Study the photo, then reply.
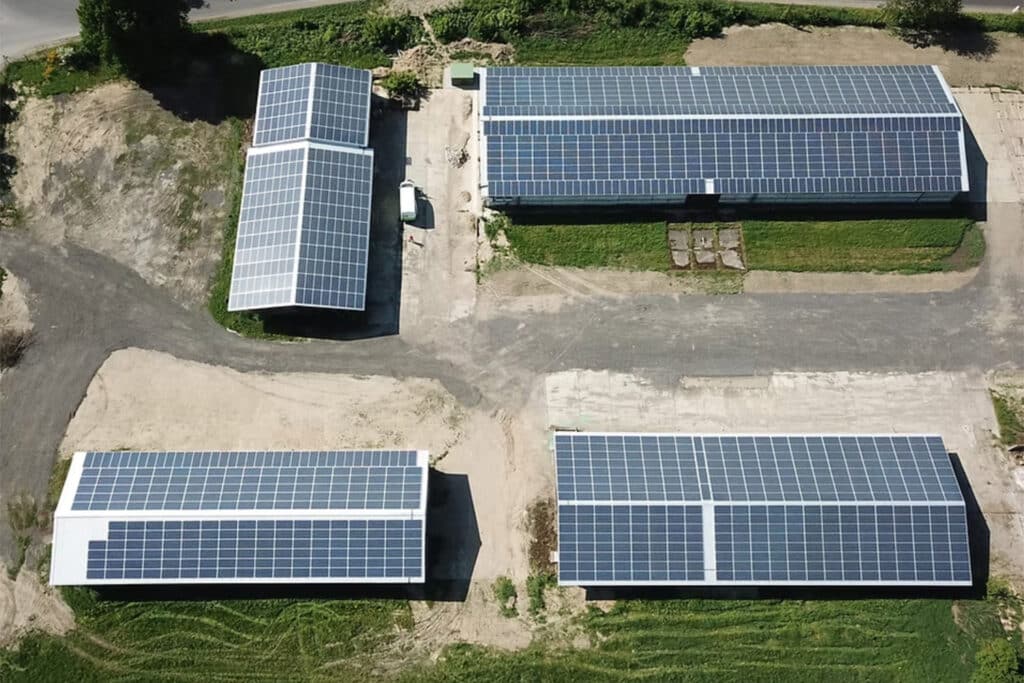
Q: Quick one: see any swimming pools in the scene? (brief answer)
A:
No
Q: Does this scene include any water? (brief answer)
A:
No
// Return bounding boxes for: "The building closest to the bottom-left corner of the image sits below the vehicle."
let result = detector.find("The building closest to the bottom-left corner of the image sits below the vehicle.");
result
[49,450,429,586]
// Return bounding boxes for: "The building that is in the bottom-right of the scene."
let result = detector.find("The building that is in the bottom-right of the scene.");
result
[551,432,972,587]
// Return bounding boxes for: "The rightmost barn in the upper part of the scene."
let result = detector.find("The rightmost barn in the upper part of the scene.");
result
[480,65,970,211]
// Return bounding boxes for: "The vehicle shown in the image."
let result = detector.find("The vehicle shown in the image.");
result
[398,184,416,221]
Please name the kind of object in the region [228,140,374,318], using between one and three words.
barn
